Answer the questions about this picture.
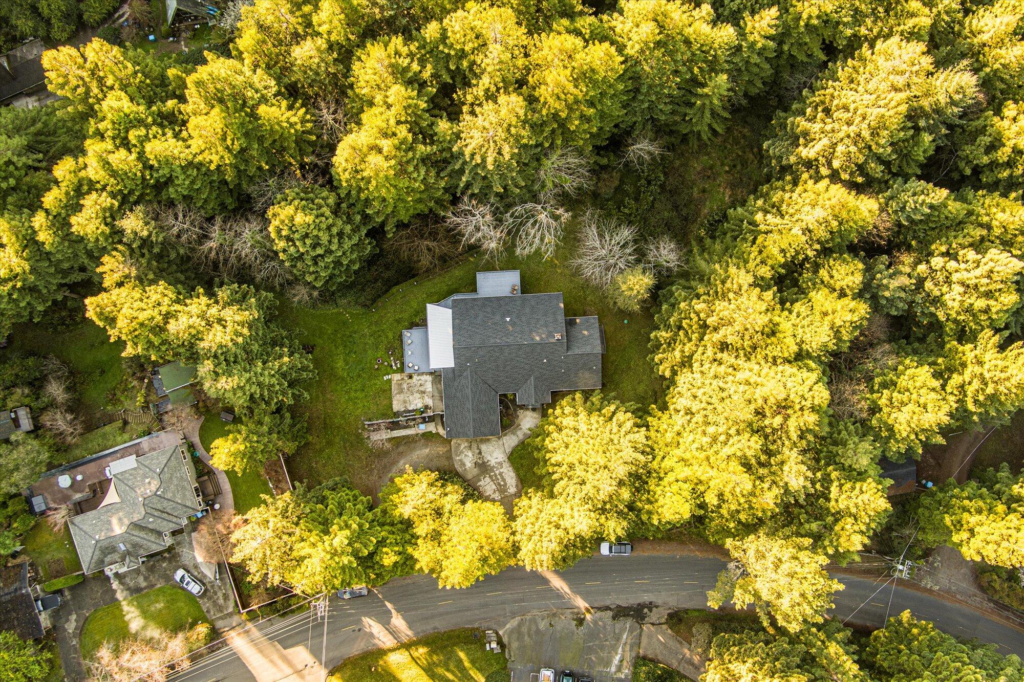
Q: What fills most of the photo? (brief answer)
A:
trees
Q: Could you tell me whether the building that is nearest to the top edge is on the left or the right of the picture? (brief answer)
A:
left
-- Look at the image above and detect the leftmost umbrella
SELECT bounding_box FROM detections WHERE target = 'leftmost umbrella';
[60,474,76,487]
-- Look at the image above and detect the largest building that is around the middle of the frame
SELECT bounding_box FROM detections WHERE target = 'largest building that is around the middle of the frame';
[442,292,607,438]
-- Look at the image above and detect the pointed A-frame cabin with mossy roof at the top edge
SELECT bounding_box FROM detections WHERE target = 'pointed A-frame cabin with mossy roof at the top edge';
[168,0,218,28]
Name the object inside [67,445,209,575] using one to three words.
house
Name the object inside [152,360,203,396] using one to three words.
shed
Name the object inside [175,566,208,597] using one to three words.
car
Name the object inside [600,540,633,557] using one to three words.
car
